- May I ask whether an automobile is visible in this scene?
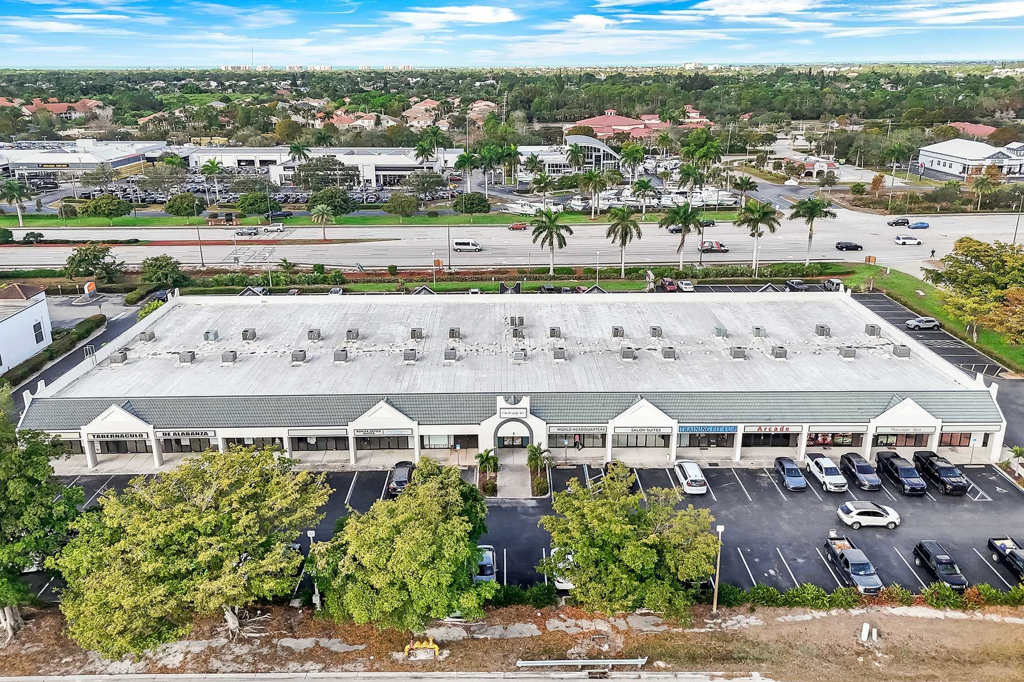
Yes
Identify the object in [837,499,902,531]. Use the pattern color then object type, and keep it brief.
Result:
white car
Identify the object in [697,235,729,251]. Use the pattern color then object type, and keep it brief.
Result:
white vehicle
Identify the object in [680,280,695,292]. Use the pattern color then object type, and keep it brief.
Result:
white vehicle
